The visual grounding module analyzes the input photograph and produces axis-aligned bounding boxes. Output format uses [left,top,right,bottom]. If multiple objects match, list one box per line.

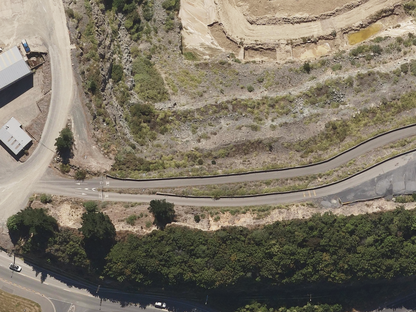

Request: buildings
[0,116,34,154]
[0,44,32,88]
